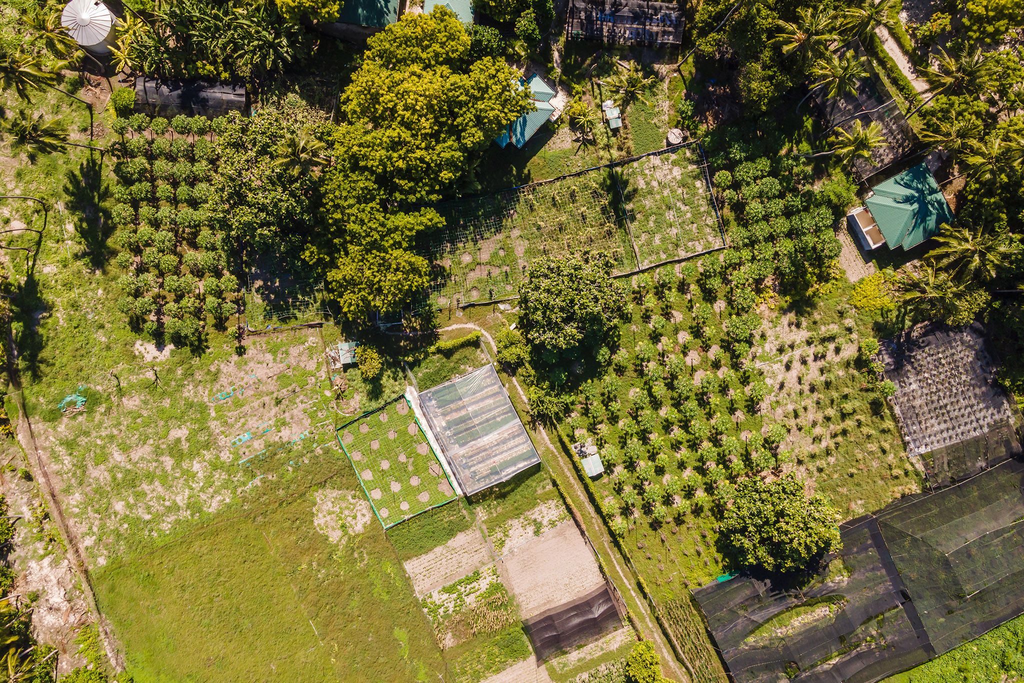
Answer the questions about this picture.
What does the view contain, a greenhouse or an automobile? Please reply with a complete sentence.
It is a greenhouse that can be seen here.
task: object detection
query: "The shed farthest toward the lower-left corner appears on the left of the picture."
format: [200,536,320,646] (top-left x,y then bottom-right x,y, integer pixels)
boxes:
[339,342,359,365]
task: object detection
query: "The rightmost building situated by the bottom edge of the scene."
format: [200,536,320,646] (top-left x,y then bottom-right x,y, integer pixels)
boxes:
[862,439,1024,661]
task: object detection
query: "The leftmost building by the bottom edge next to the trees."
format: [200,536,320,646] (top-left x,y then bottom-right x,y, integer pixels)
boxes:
[686,510,936,683]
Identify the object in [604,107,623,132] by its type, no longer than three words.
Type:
shed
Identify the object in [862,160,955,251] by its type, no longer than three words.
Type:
house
